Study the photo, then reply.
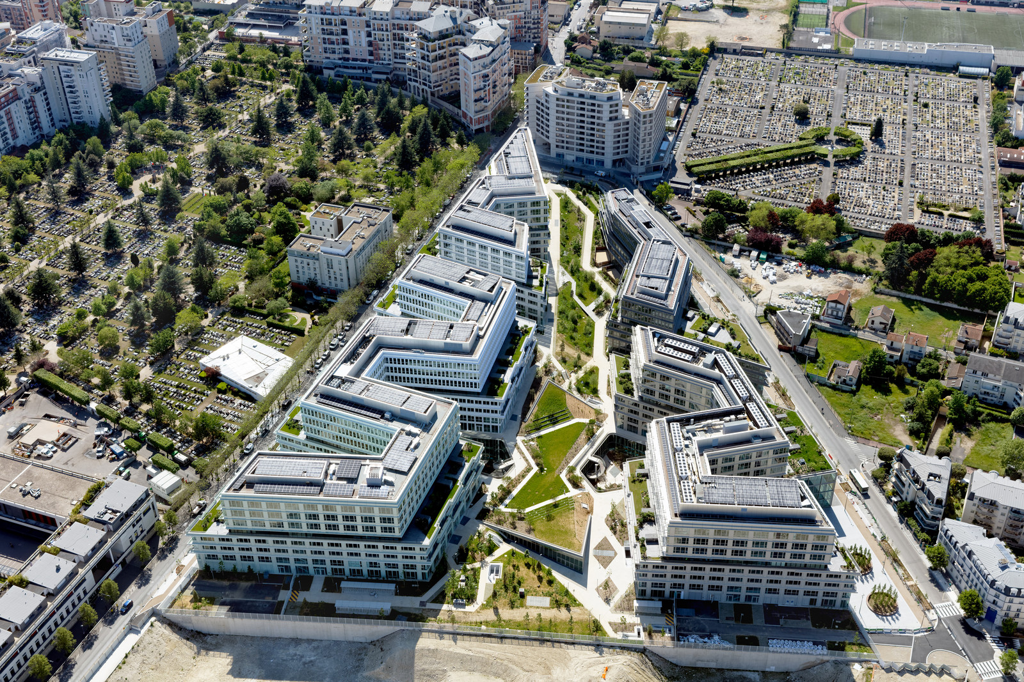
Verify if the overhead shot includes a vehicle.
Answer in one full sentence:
Yes, there is a vehicle in the image.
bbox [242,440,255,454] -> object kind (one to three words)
vehicle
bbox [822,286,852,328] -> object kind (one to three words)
house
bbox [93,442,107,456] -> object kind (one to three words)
vehicle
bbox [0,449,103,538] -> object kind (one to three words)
building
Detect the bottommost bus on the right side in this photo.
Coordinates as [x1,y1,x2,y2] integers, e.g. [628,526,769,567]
[850,469,872,501]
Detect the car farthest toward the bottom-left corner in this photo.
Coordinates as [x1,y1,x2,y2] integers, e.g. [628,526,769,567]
[119,598,134,613]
